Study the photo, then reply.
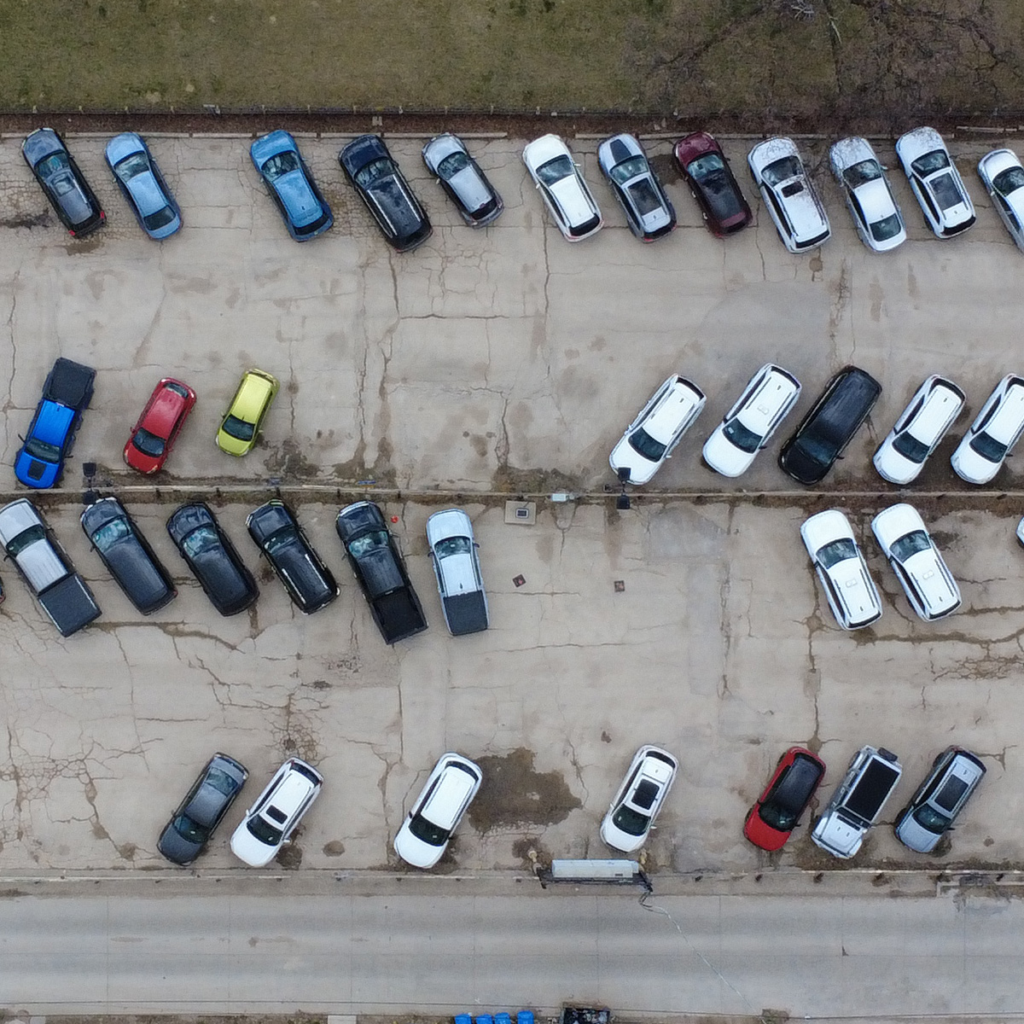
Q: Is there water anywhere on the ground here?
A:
No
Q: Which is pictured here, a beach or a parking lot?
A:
parking lot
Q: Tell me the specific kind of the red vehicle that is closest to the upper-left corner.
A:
automobile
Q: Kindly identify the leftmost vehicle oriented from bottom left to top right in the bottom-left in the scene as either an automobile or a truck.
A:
automobile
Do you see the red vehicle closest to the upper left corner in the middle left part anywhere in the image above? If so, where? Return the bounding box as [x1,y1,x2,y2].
[125,378,198,473]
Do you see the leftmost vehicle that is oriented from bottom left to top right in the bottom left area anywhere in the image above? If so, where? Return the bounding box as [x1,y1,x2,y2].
[160,752,248,865]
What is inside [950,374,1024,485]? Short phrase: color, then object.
white car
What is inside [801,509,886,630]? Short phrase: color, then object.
white car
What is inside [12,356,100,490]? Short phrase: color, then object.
blue truck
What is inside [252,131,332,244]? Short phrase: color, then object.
blue car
